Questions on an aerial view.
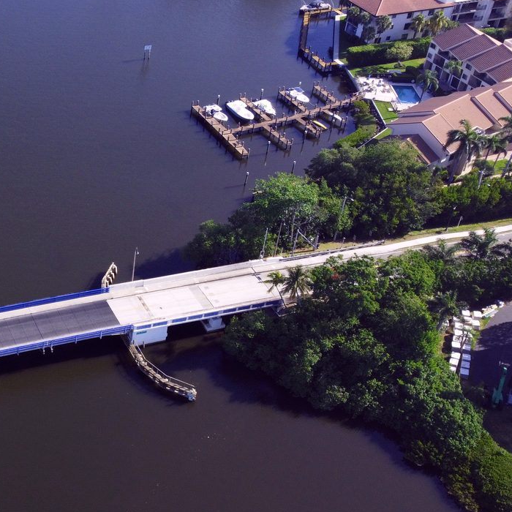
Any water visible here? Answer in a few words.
Yes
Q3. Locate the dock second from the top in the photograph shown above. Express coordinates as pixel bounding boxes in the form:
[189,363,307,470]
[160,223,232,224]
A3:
[190,81,366,160]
